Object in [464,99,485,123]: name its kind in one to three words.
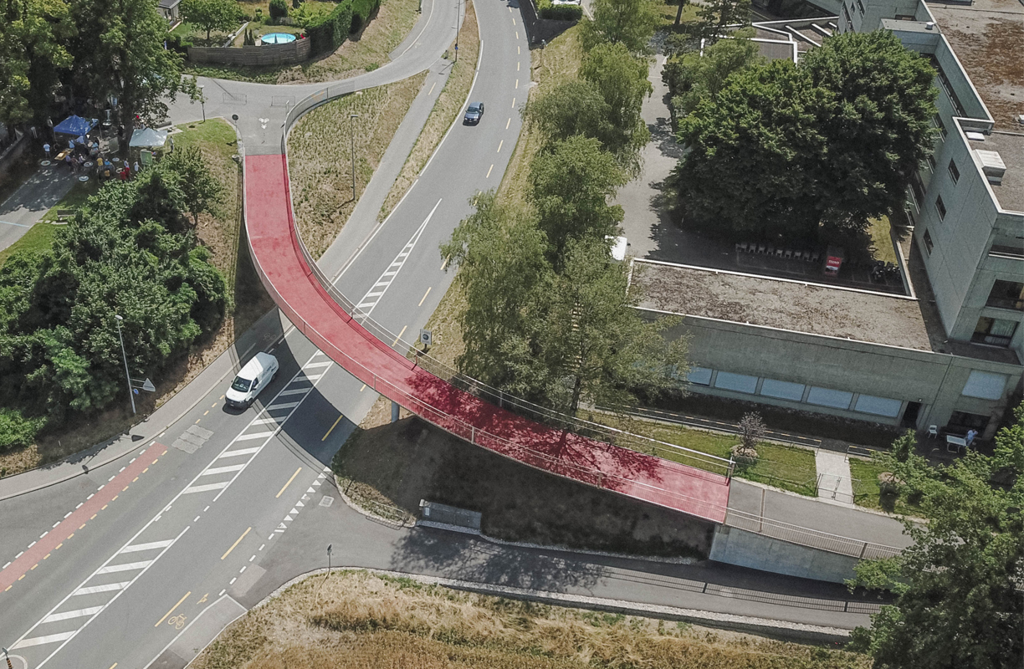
car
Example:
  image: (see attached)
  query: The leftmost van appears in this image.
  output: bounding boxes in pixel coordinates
[220,344,282,408]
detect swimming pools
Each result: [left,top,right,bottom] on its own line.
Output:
[258,32,299,48]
